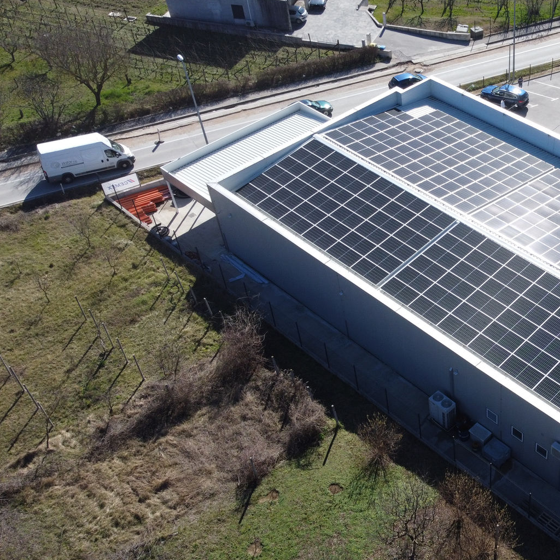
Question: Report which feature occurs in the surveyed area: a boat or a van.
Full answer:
The one in the frame is a van.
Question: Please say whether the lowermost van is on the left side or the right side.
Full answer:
The lowermost van is on the left side of the image.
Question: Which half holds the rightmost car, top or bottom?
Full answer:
The rightmost car sits in the top half of the picture.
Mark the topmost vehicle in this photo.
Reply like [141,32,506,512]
[289,3,312,25]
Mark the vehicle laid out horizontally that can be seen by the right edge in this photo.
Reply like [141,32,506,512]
[480,83,532,110]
